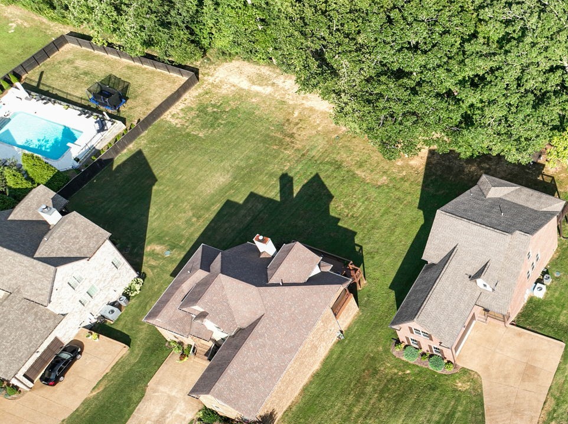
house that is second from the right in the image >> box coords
[142,233,365,424]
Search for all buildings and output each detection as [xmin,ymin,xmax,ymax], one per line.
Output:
[0,183,137,390]
[142,233,365,424]
[389,174,568,364]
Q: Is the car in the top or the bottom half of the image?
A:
bottom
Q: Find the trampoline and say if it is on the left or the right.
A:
left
